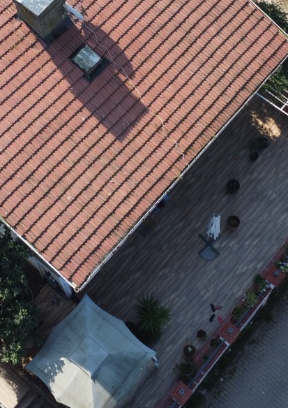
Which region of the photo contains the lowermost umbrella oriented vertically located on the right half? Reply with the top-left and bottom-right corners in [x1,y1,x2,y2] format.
[194,215,223,271]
